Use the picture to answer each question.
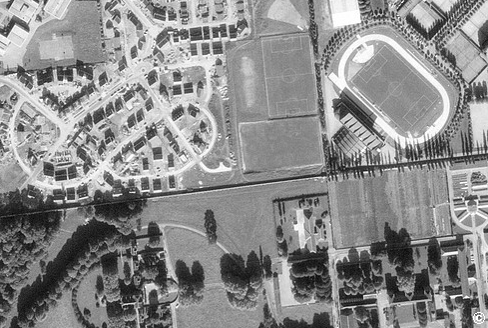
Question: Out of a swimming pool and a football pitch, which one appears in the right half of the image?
football pitch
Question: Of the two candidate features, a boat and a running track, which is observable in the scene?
running track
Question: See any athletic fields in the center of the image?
Yes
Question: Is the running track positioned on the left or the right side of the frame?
right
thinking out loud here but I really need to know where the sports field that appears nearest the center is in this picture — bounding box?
[239,117,323,171]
